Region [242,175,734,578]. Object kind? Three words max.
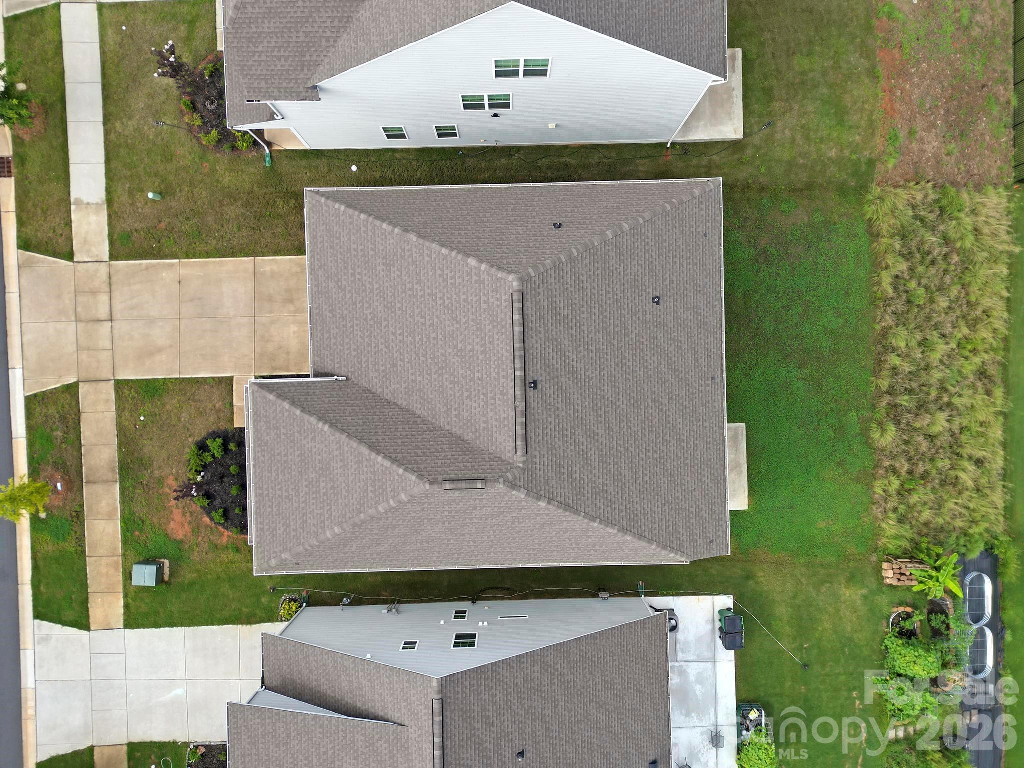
house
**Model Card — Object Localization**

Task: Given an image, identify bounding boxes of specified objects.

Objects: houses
[216,0,730,157]
[242,175,734,578]
[225,591,672,768]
